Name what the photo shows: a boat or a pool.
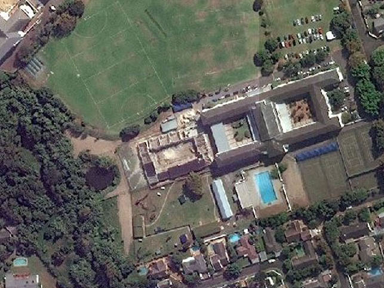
pool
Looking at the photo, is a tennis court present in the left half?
No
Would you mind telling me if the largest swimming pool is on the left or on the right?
right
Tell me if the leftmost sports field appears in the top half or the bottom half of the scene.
top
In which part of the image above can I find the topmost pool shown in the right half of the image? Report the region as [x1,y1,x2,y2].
[236,163,285,209]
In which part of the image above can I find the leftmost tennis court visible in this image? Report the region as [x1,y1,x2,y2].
[296,150,346,202]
